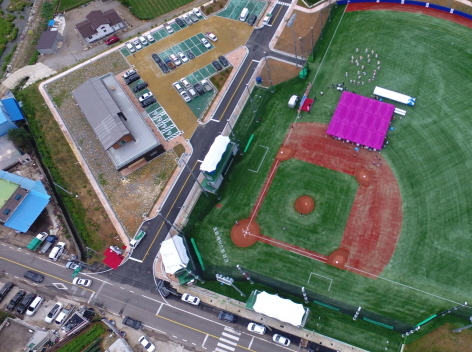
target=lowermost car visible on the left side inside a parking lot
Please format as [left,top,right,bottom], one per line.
[138,336,156,352]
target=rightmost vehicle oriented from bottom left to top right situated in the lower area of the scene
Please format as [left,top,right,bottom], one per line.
[129,230,147,248]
